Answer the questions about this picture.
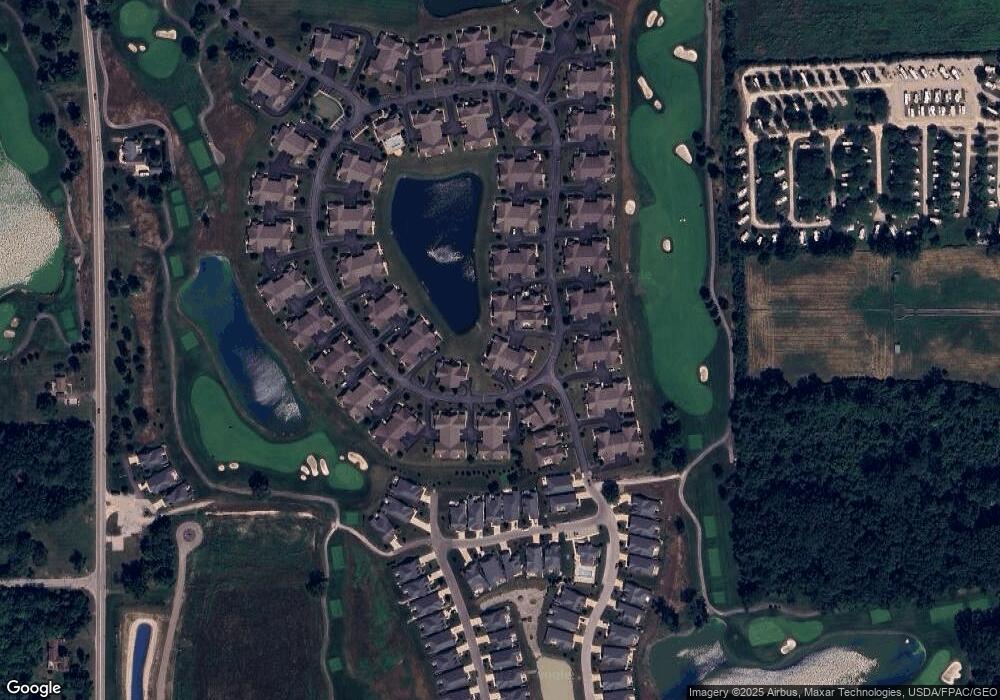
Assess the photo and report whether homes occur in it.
Yes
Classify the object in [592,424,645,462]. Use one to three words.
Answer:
house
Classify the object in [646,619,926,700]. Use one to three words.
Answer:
pond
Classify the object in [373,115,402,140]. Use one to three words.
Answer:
building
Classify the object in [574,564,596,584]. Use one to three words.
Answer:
swimming pool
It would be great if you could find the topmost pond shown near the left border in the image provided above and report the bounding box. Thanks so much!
[0,156,61,297]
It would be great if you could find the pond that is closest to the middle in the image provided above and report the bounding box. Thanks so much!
[391,173,482,334]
